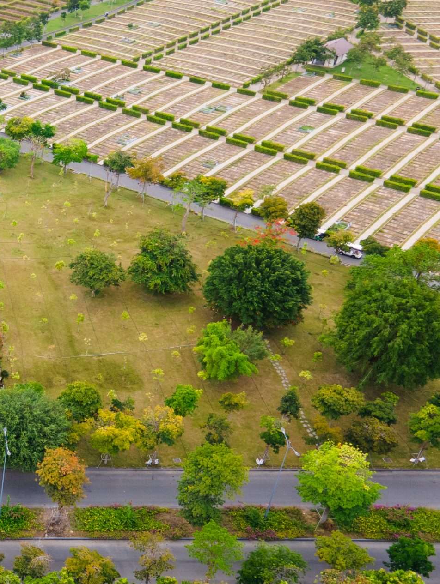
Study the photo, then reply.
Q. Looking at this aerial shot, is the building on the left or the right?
right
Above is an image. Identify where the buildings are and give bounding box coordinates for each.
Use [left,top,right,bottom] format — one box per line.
[315,40,363,73]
